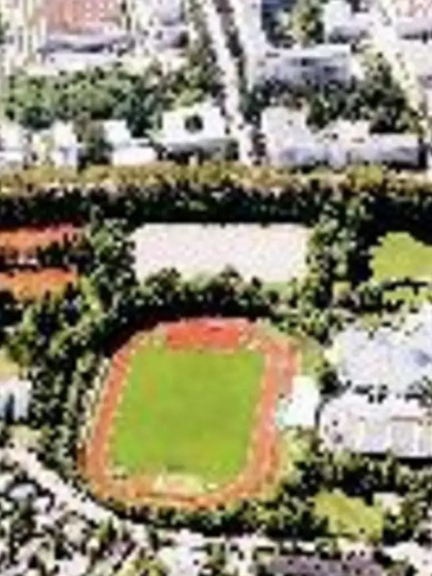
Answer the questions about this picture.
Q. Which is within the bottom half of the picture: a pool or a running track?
running track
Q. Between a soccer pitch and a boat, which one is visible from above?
soccer pitch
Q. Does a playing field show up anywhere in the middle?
Yes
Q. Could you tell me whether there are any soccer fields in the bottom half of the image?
Yes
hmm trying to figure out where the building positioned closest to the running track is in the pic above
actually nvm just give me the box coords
[160,526,185,542]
